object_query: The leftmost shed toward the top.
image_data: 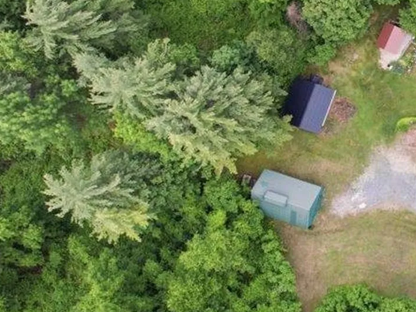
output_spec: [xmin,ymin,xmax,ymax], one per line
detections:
[284,77,341,133]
